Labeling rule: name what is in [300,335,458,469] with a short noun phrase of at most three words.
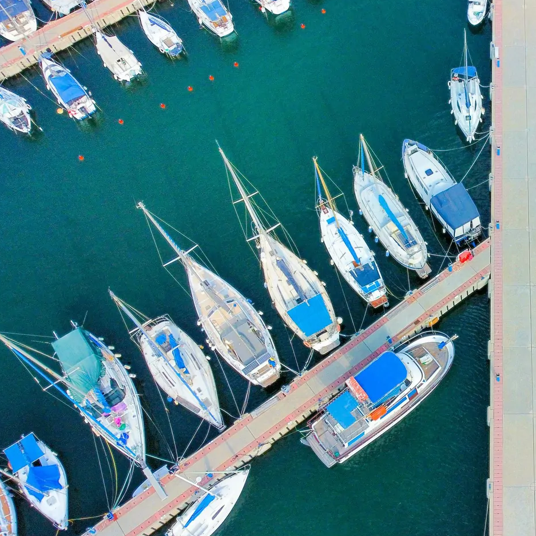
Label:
boat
